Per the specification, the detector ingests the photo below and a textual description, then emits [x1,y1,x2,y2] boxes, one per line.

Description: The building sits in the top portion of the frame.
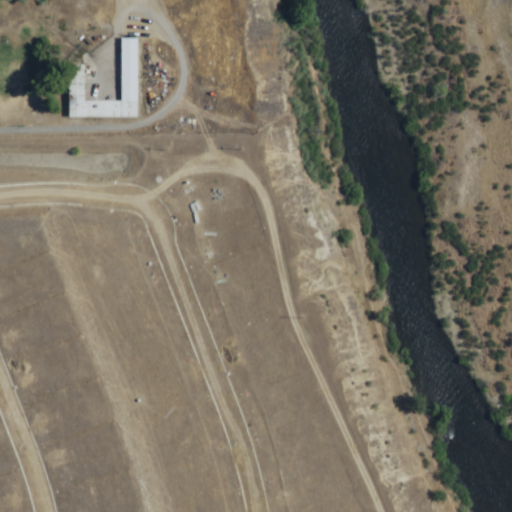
[69,37,138,118]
